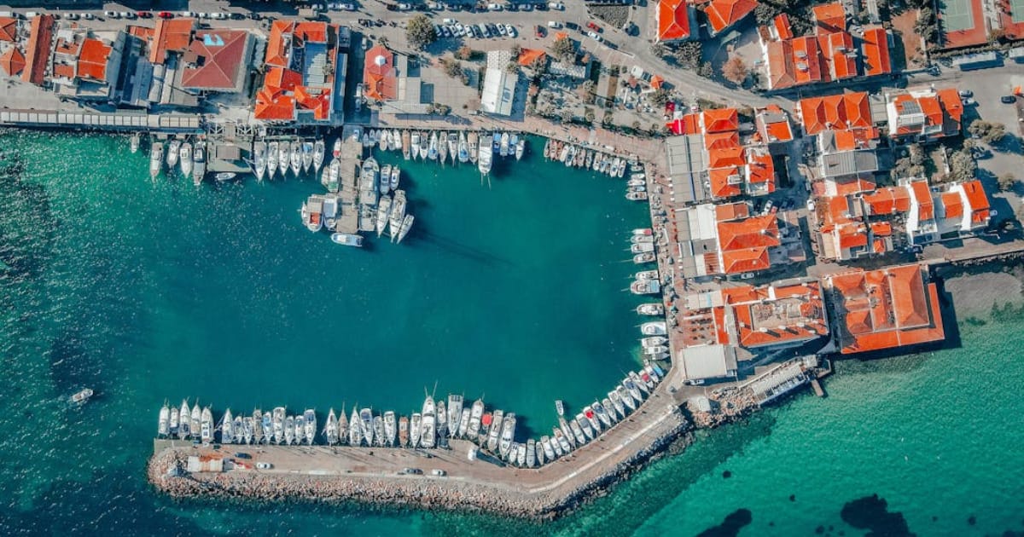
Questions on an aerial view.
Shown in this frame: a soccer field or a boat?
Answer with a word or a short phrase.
boat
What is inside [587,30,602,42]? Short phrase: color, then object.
white vehicle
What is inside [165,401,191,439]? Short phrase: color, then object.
white boat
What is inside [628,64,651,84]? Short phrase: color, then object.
white vehicle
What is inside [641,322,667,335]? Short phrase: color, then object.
white boat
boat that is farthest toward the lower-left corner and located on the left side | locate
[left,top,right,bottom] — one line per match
[70,390,92,404]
